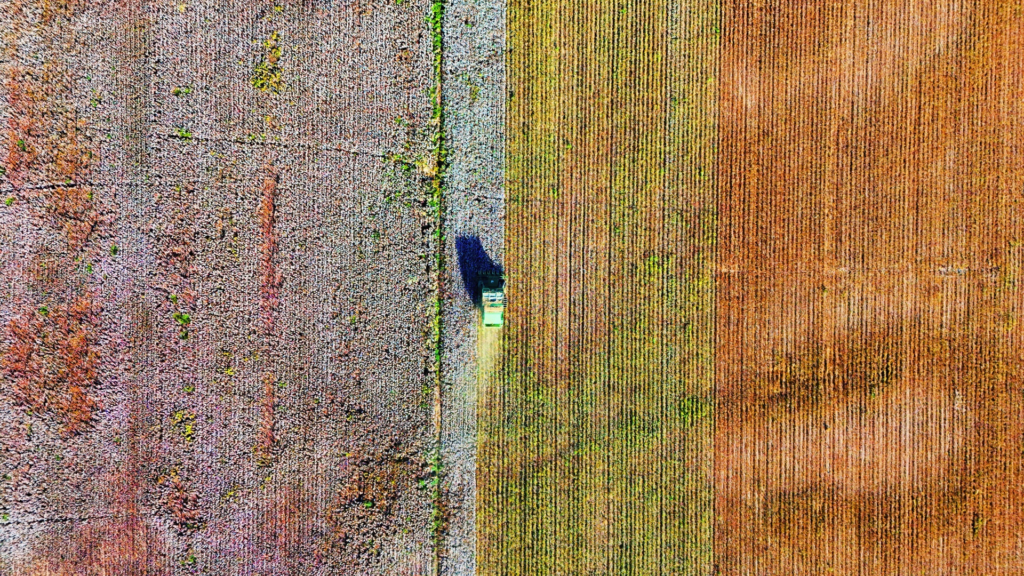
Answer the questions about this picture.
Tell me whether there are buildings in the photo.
No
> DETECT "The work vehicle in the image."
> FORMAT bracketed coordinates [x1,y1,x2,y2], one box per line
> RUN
[476,269,508,329]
